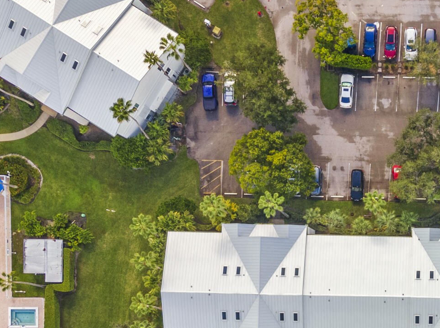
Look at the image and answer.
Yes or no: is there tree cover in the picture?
Yes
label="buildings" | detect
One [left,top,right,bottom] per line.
[161,207,440,328]
[19,238,71,282]
[0,0,185,138]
